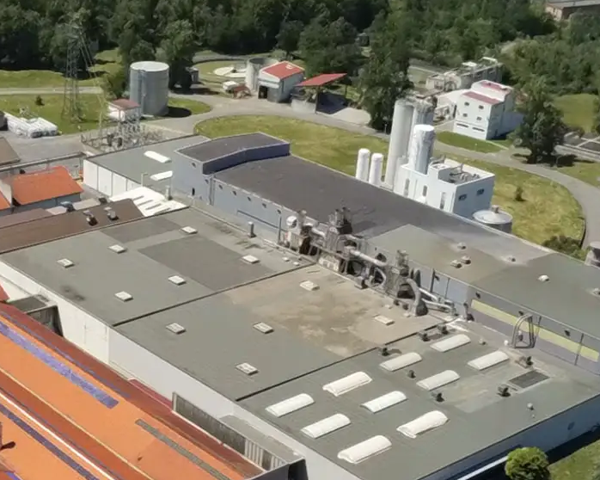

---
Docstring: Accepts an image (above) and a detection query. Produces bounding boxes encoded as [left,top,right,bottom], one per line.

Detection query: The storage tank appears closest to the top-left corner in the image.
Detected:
[130,62,170,113]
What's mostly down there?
buildings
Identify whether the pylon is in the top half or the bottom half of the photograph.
top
